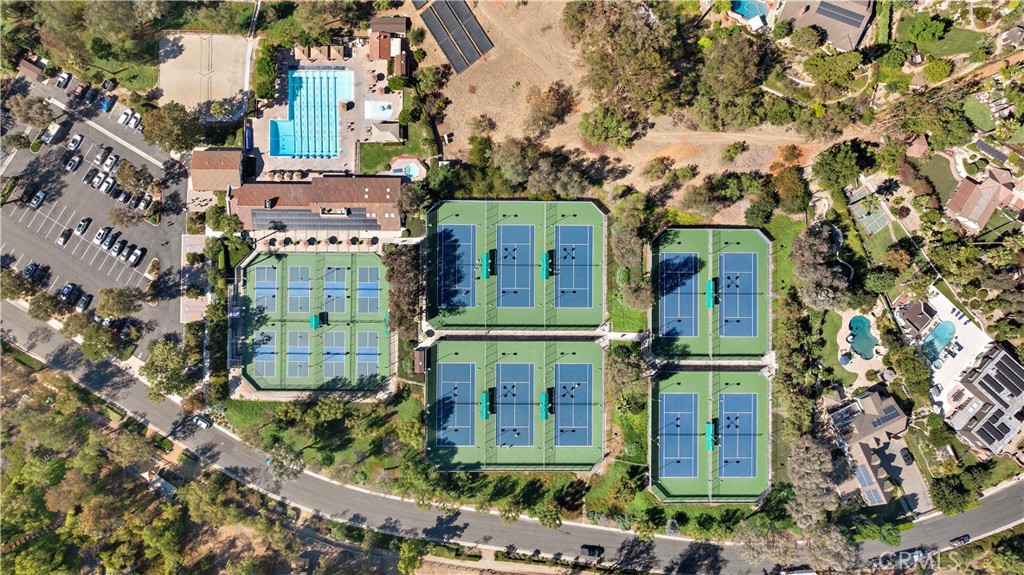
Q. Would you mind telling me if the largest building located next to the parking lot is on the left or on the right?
left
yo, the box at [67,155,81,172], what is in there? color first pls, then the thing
gray car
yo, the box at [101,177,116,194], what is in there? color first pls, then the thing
white car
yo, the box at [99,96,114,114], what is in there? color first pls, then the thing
blue car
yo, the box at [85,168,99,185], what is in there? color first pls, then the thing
black car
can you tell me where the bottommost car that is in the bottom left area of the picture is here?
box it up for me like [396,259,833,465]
[195,414,212,428]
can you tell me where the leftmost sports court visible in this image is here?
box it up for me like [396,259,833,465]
[158,31,248,122]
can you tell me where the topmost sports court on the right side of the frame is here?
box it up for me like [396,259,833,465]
[847,187,889,235]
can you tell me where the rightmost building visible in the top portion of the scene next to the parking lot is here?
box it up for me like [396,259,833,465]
[227,175,402,232]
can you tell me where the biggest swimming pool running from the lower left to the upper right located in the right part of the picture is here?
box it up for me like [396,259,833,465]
[920,320,957,364]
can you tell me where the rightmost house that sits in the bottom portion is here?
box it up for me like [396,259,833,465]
[947,344,1024,459]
